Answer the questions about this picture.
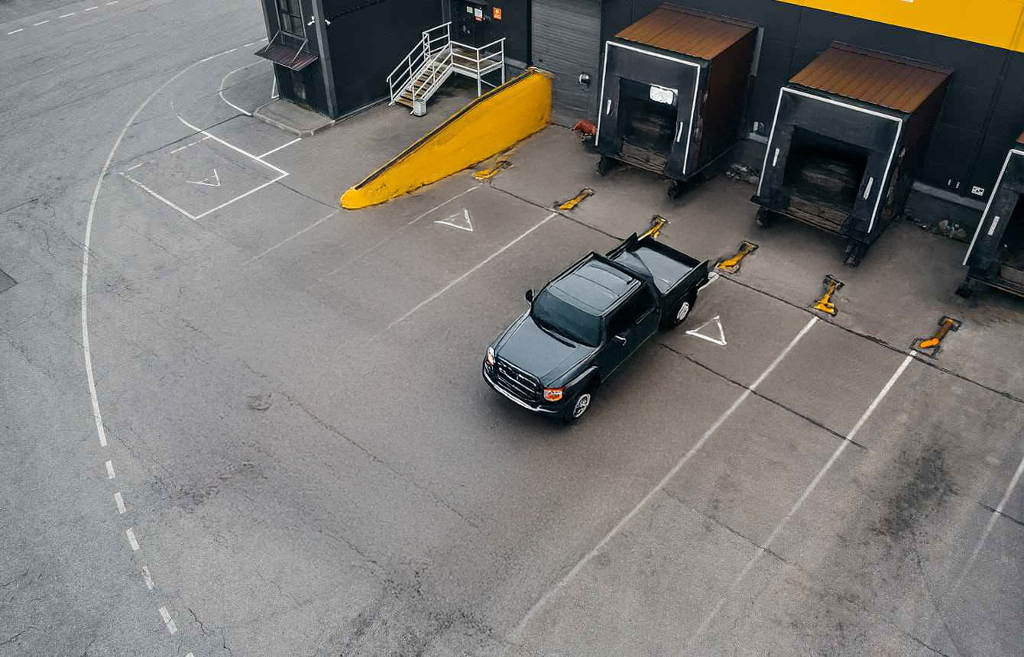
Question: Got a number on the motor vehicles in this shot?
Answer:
one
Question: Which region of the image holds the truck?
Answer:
center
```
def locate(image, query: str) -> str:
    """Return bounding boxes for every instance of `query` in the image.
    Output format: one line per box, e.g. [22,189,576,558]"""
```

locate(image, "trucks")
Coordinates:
[479,228,706,424]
